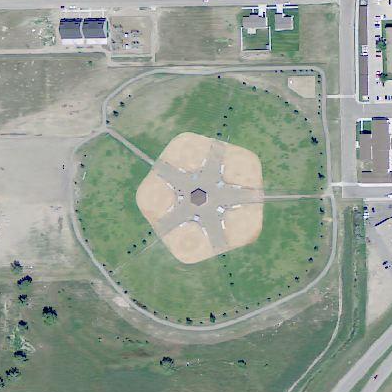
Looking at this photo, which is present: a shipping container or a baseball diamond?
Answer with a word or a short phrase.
baseball diamond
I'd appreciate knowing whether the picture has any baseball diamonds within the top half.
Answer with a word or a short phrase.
Yes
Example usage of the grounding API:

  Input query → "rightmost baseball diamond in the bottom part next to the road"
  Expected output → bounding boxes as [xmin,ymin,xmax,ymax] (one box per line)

[216,198,334,319]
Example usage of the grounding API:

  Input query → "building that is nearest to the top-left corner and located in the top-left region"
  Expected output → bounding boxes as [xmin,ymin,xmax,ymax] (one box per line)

[60,23,83,38]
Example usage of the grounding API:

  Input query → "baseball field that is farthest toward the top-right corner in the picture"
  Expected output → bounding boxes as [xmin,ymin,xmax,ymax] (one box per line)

[215,69,329,195]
